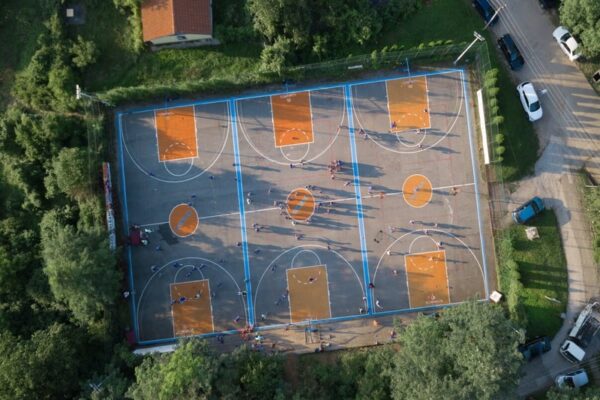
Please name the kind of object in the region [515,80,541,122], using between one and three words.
car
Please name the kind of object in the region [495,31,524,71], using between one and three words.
car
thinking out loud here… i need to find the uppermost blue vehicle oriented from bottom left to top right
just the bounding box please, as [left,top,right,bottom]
[509,196,544,224]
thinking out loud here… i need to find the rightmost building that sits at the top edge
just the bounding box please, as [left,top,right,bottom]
[140,0,213,54]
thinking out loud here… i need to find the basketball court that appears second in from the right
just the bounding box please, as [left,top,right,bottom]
[236,82,373,328]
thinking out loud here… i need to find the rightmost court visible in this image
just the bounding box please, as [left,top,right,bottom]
[351,68,488,313]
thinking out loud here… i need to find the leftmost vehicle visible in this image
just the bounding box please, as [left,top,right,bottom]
[468,0,498,29]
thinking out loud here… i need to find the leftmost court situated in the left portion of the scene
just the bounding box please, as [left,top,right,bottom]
[117,96,257,344]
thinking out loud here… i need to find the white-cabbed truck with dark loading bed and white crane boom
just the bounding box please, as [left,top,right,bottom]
[554,300,600,364]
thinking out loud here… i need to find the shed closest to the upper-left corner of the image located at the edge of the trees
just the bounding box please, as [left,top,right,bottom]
[64,4,90,29]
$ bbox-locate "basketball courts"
[236,82,373,328]
[117,96,257,344]
[351,68,488,313]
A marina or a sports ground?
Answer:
sports ground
